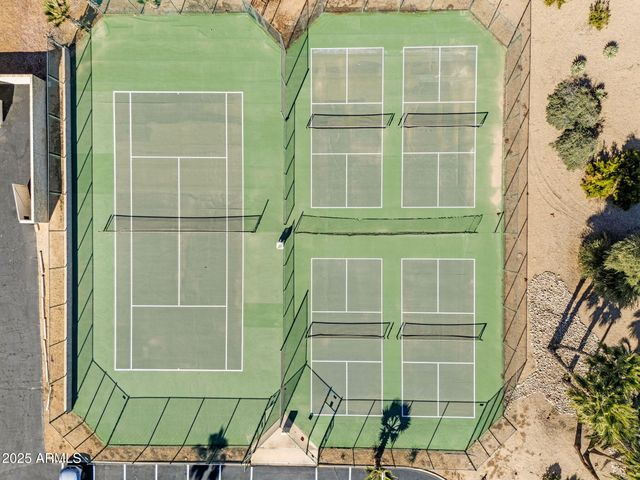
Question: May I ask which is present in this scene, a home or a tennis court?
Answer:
tennis court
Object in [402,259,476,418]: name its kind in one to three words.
sports court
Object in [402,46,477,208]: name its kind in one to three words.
sports court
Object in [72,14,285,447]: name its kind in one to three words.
tennis court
